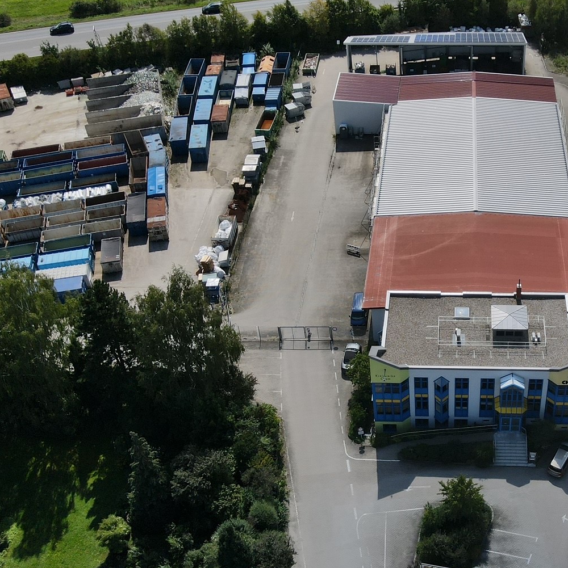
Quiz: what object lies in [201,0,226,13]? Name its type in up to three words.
vehicle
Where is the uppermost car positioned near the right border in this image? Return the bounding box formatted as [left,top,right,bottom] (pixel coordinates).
[545,437,568,478]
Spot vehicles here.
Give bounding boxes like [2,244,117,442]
[348,286,366,325]
[49,22,74,36]
[545,437,568,478]
[201,0,226,13]
[341,338,362,373]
